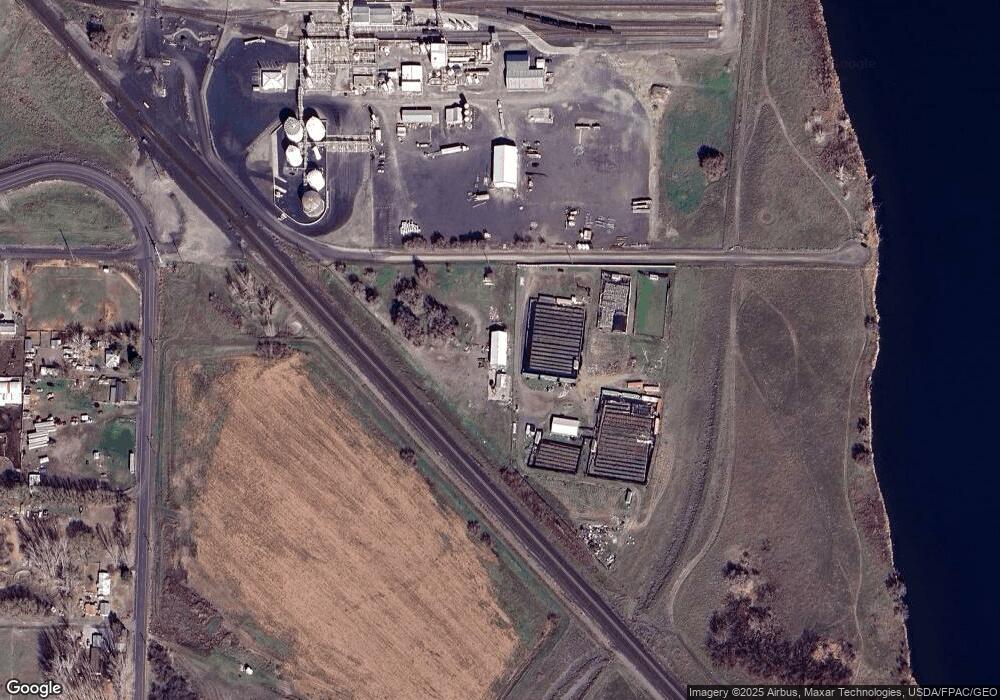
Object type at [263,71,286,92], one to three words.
building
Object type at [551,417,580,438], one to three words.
barn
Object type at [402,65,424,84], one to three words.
building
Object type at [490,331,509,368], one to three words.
shed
